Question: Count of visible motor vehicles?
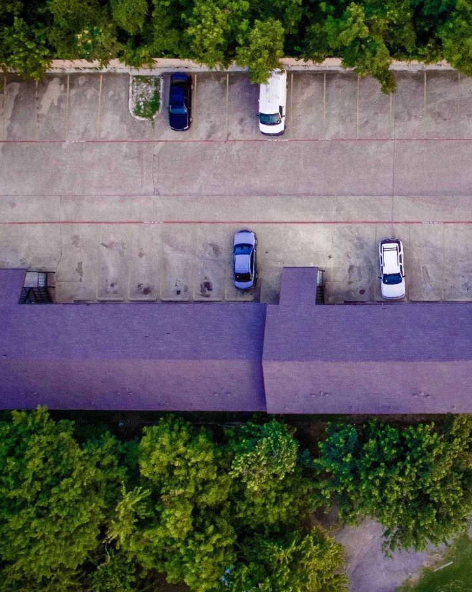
4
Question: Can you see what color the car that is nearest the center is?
blue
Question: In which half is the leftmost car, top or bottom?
top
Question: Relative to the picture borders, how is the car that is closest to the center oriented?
vertically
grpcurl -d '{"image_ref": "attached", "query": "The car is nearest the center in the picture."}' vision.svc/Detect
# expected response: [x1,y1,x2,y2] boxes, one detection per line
[231,231,258,289]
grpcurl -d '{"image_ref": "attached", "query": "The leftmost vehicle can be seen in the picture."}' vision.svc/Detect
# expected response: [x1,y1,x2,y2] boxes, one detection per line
[167,74,195,131]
